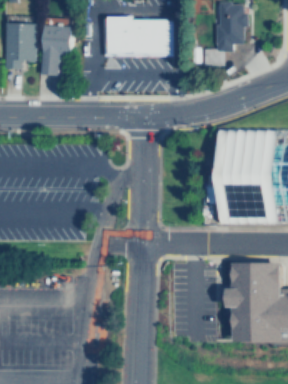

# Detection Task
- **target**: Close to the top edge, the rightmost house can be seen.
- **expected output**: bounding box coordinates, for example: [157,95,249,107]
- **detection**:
[218,1,251,52]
